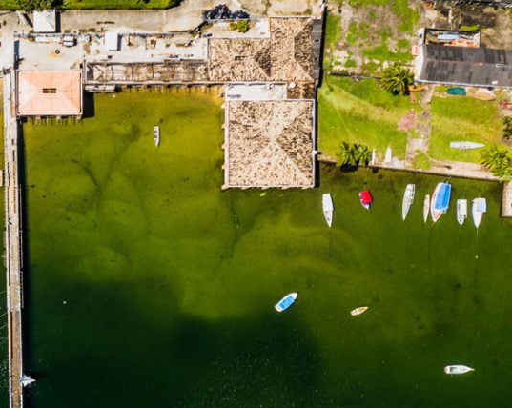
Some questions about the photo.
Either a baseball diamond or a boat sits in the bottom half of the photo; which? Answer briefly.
boat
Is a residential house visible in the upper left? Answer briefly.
Yes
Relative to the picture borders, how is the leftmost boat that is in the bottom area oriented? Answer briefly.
diagonally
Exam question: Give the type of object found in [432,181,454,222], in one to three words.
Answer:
boat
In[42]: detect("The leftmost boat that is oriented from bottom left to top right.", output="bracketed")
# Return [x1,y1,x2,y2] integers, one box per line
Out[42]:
[274,292,298,313]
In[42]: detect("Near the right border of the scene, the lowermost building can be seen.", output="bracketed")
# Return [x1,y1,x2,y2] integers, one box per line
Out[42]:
[412,45,512,91]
